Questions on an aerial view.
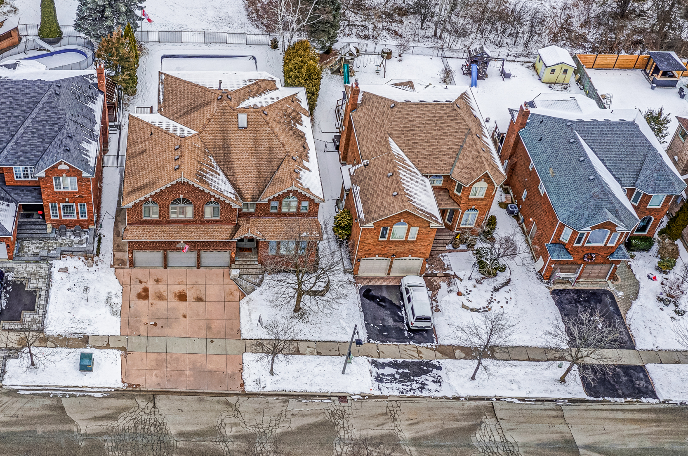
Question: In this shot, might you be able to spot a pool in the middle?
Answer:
No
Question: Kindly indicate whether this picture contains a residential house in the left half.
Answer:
Yes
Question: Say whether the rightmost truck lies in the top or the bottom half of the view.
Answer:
bottom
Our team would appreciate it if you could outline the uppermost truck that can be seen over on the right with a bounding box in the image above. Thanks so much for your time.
[403,274,437,334]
